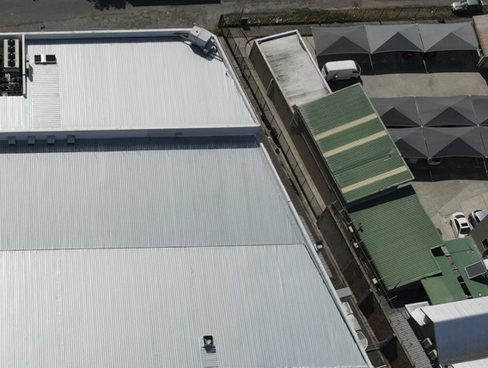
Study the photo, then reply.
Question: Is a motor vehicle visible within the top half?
Yes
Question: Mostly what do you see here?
buildings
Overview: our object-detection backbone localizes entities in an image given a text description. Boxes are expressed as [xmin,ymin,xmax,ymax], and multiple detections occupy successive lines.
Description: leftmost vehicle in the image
[320,61,357,82]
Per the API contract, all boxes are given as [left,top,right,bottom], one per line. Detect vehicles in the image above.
[424,46,442,61]
[463,207,486,228]
[449,1,483,16]
[444,211,471,239]
[401,52,415,61]
[320,61,357,82]
[424,142,442,168]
